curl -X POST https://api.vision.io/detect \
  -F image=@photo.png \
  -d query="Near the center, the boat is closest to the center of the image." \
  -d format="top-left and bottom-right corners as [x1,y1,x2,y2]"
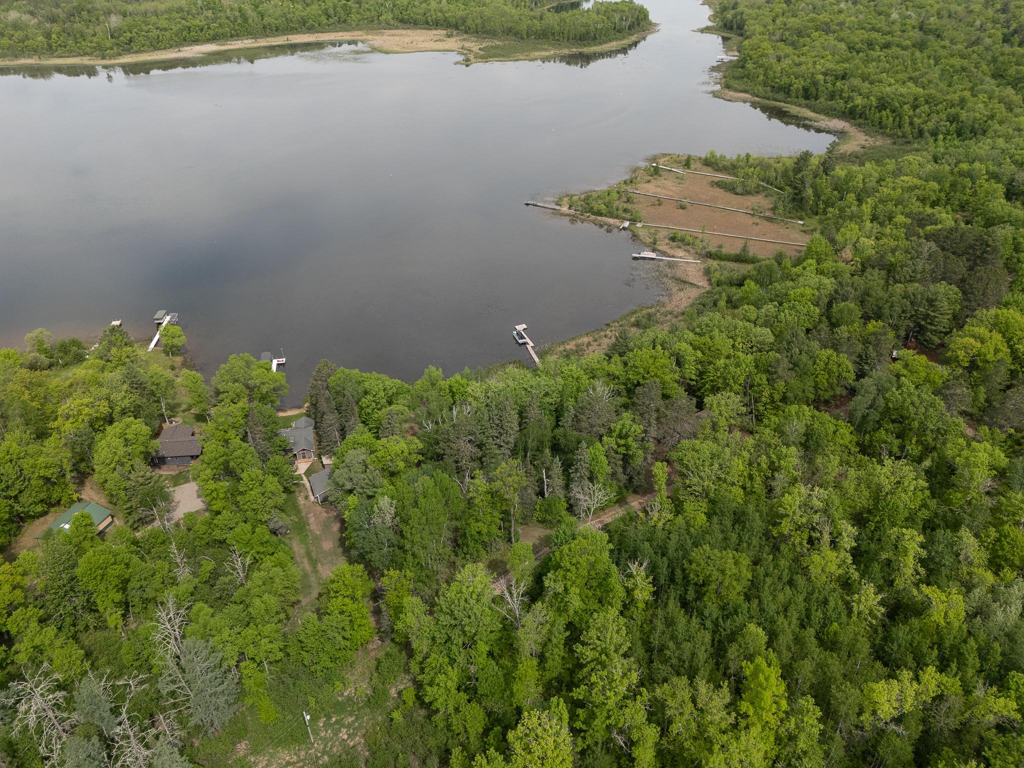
[512,331,527,344]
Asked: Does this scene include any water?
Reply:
Yes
